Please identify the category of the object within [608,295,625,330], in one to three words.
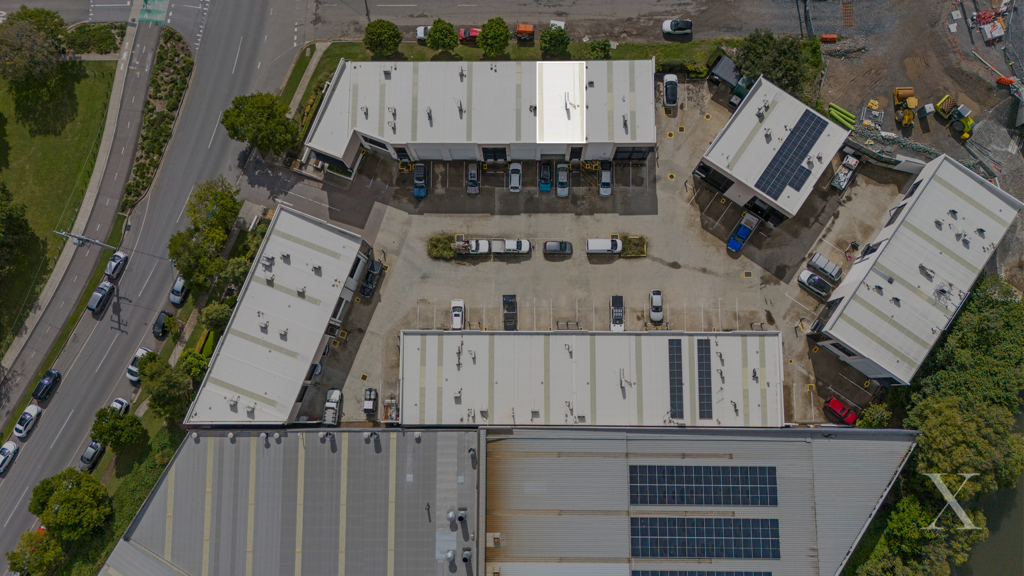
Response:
vehicle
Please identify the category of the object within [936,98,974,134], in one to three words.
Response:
work vehicle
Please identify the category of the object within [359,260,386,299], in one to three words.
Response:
truck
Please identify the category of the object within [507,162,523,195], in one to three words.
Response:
car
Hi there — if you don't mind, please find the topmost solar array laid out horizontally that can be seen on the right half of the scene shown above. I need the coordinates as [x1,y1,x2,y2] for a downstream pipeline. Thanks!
[630,466,778,507]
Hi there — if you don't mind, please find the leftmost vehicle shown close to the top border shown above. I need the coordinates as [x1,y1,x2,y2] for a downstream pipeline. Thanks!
[412,24,433,42]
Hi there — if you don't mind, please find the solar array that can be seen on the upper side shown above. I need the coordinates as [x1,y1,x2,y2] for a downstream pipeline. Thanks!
[758,110,828,200]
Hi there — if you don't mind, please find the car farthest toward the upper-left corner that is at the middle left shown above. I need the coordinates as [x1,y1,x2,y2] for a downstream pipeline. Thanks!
[102,249,132,282]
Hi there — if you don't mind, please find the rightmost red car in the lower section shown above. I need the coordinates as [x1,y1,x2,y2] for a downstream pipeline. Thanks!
[823,395,859,425]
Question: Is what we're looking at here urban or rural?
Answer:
urban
